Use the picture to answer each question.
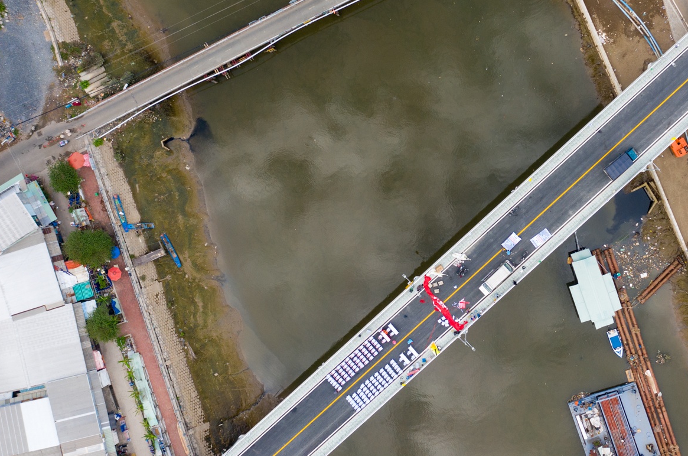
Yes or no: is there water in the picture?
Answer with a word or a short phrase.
Yes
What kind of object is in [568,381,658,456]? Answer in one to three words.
ship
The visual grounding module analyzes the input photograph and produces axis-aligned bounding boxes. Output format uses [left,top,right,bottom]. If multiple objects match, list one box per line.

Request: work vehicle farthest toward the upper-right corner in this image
[668,138,688,159]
